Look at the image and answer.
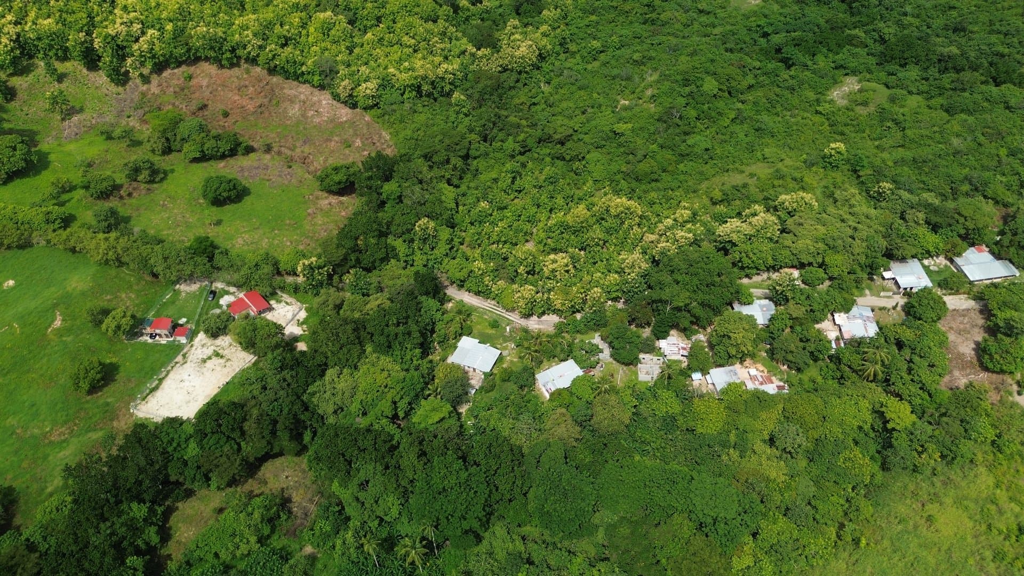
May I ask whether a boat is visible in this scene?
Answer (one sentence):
No, I can see no boat in this picture.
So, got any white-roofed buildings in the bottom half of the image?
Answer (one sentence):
Yes, a white-roofed building shows up in the bottom half of the image.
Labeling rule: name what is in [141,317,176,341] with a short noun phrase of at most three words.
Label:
house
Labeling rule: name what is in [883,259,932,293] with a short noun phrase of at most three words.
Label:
house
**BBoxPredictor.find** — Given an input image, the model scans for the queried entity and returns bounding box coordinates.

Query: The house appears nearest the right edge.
[953,245,1019,287]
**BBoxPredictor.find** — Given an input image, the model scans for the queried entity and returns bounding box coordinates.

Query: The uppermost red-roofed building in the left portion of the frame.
[229,291,272,319]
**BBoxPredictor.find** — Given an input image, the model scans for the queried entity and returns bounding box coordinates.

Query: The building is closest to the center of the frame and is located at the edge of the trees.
[451,336,501,377]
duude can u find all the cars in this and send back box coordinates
[145,333,158,342]
[208,291,217,301]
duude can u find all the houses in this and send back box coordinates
[536,359,583,399]
[639,358,665,382]
[451,336,501,377]
[743,375,788,396]
[883,259,932,293]
[659,337,690,359]
[953,245,1019,287]
[229,291,272,319]
[833,306,879,342]
[709,366,742,394]
[735,299,775,326]
[141,317,176,341]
